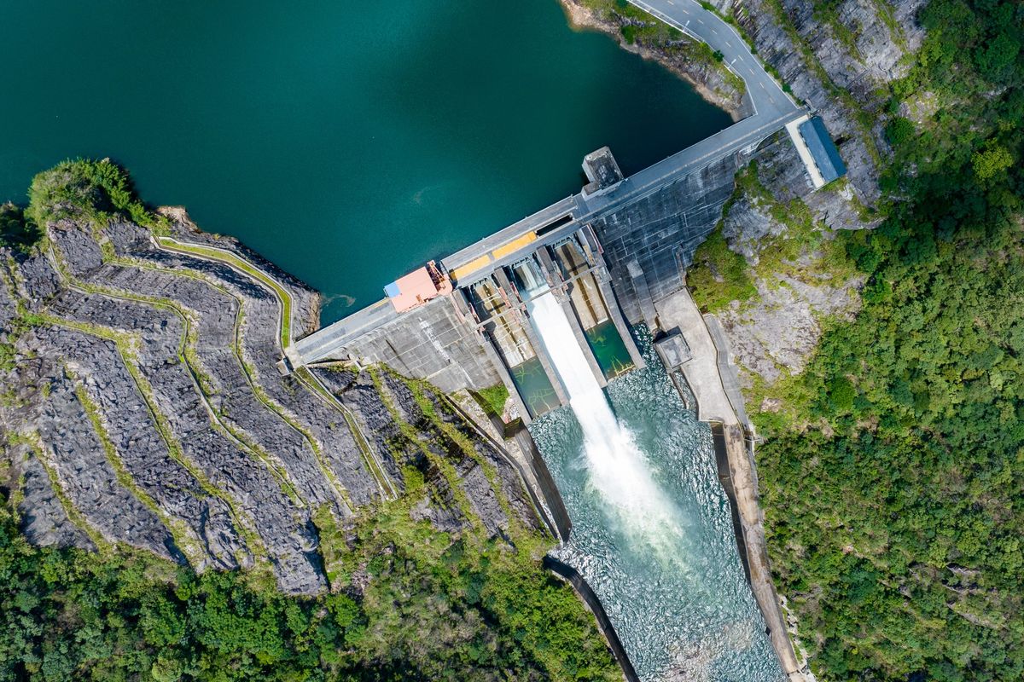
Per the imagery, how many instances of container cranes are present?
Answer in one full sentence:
Just 1 container crane appears in this view.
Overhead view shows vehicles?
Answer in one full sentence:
No, I find no vehicle anywhere in the image.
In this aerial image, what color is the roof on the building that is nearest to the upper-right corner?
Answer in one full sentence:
The roof of the building that is nearest to the upper-right corner is blue.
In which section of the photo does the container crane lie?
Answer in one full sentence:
The container crane sits in the center section of the image.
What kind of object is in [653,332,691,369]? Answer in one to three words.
building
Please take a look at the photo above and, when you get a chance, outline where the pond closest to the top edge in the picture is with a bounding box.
[0,0,737,334]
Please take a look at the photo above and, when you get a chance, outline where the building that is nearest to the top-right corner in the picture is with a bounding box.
[785,114,845,189]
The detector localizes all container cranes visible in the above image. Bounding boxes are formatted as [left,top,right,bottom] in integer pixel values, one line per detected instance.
[386,261,456,316]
